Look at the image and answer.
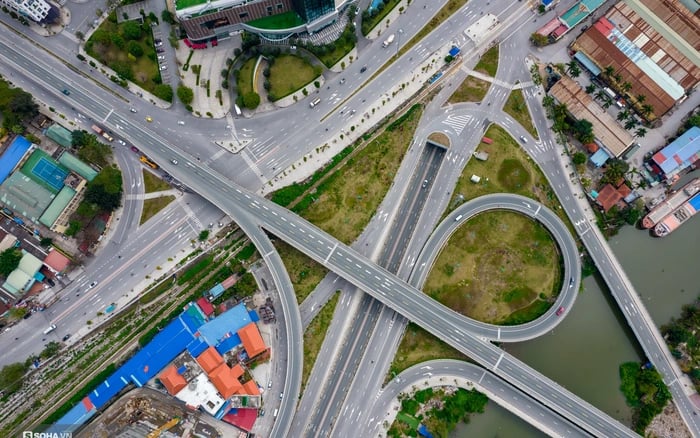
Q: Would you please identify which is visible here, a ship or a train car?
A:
ship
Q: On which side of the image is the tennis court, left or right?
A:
left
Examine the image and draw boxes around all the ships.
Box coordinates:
[654,192,700,237]
[643,179,700,228]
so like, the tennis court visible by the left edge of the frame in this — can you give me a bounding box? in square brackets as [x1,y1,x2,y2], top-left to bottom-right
[20,149,70,195]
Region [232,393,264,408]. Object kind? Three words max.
house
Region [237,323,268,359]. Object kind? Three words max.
house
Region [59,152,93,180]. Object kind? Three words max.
shed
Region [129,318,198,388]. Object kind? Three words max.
building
